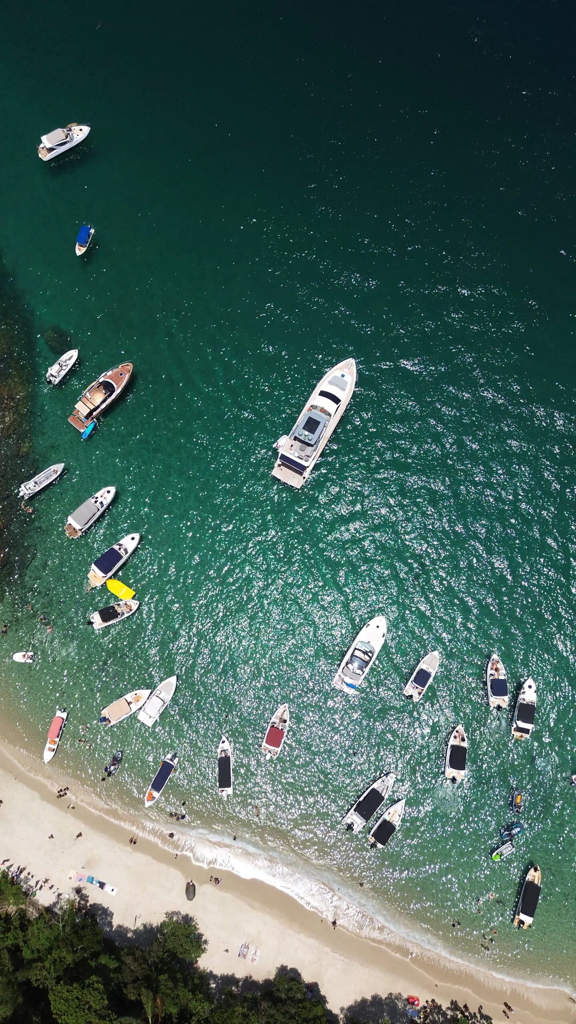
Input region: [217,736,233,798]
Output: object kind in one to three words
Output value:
boat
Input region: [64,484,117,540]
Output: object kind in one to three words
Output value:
boat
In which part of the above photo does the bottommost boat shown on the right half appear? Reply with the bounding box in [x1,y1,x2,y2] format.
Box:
[511,863,541,929]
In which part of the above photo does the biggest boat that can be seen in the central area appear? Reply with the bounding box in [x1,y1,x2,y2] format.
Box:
[271,354,358,489]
